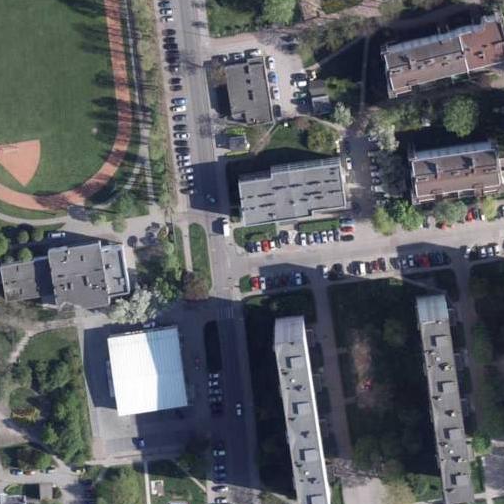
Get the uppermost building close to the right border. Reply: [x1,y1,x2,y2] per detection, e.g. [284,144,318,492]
[383,12,504,96]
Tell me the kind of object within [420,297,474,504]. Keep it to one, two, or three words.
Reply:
building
